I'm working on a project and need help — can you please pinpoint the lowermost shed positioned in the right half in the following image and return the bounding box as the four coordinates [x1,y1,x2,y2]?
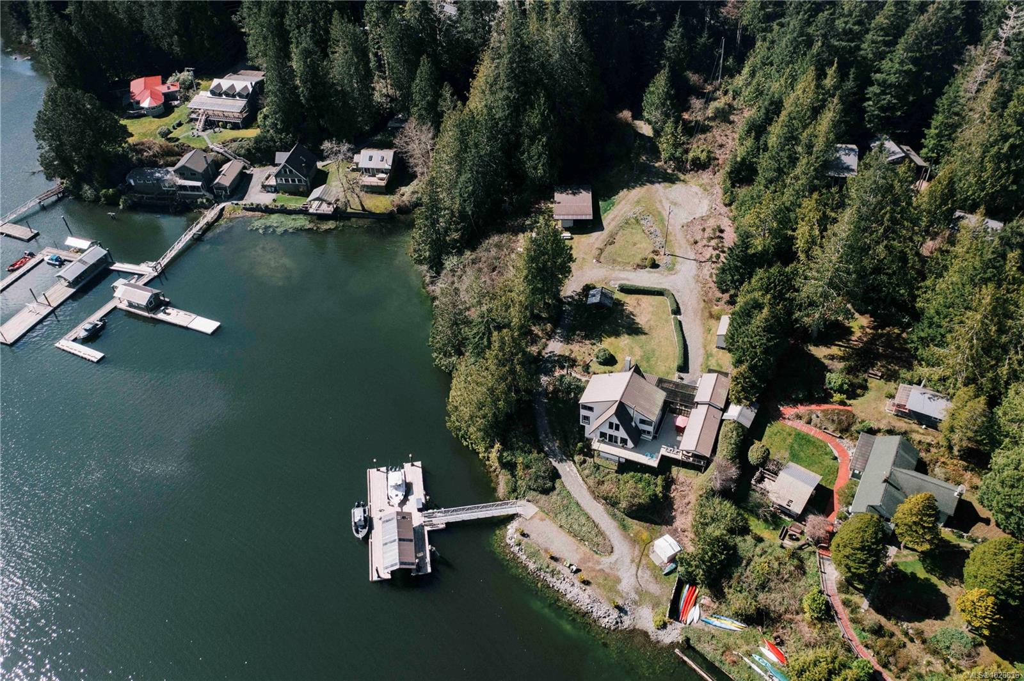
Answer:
[649,534,682,566]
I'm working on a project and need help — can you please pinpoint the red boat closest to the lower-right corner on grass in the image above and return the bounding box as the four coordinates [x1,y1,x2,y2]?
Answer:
[763,639,786,664]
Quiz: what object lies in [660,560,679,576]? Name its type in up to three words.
boat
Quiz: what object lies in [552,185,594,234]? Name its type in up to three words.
shed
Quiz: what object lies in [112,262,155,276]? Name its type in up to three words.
pier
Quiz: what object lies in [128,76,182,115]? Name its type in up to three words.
house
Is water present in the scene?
Yes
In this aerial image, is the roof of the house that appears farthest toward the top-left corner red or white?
red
